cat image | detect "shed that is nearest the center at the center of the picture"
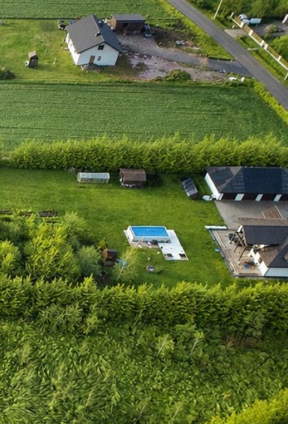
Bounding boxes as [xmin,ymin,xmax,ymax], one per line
[117,168,151,187]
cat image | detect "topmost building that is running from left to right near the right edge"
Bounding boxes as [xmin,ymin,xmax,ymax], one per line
[196,168,288,202]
